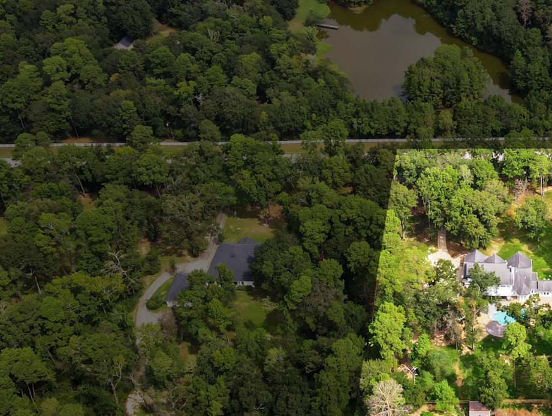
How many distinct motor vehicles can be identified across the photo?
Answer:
0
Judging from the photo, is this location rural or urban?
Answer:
rural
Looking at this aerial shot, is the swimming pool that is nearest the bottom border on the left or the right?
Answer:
right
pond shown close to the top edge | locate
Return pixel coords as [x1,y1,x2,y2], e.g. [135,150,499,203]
[316,0,533,114]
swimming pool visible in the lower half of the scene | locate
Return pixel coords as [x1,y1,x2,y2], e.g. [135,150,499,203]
[490,306,526,327]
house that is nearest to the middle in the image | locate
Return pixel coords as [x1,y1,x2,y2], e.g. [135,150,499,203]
[204,234,269,288]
